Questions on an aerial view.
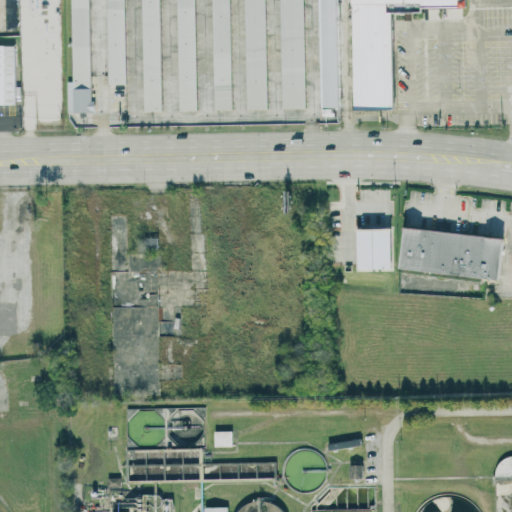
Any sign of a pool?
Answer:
No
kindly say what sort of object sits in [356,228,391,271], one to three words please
building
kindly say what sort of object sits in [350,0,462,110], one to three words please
building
